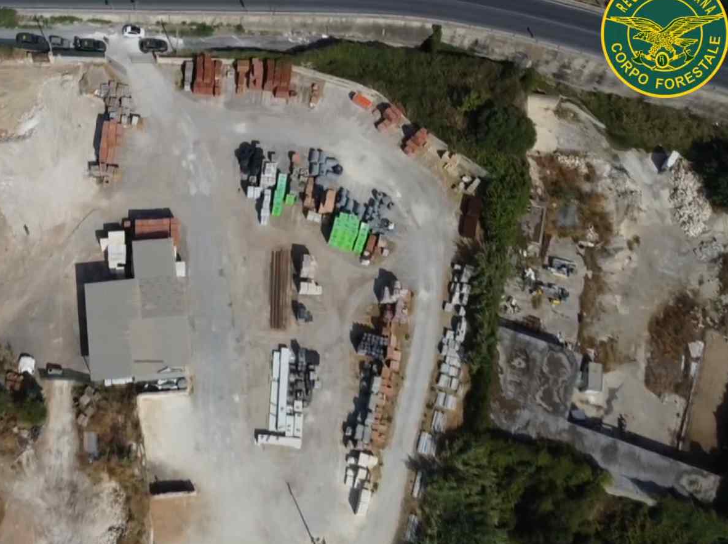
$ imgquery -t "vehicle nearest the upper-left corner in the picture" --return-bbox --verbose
[16,31,48,48]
